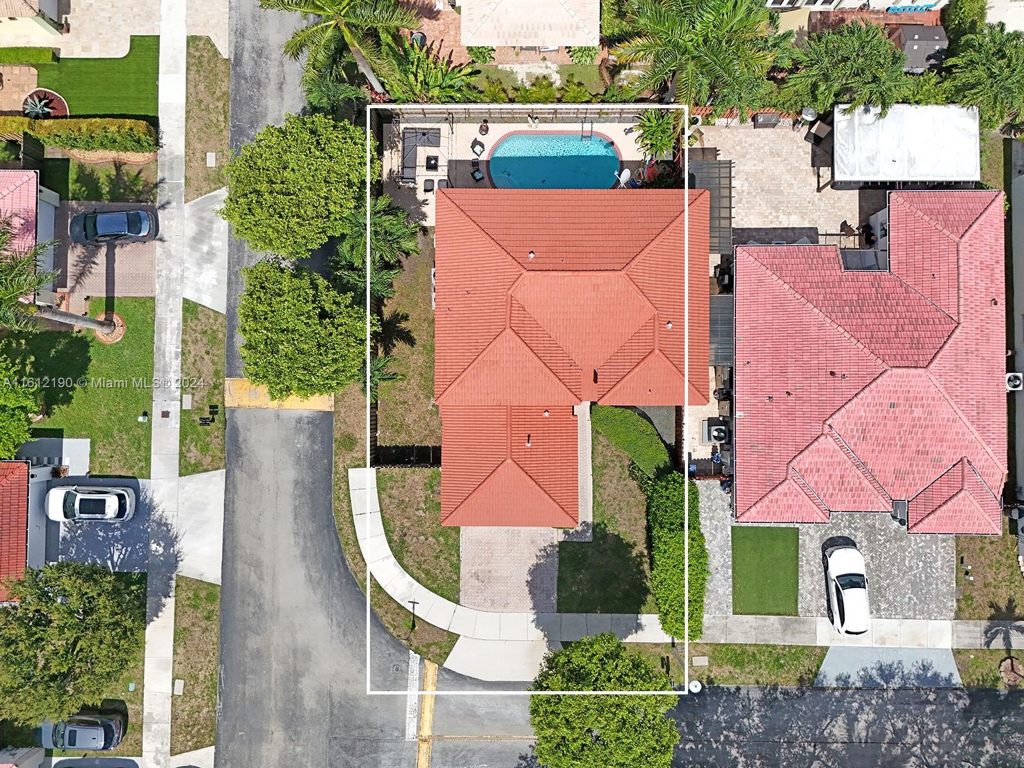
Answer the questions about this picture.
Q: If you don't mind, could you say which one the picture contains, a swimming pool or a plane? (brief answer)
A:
swimming pool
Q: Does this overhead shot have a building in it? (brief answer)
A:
Yes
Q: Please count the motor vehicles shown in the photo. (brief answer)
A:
four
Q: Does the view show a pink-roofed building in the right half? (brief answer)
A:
Yes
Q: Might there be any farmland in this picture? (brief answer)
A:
No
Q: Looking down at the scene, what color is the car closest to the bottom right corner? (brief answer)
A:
white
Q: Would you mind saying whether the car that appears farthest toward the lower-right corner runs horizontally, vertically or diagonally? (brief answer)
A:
vertically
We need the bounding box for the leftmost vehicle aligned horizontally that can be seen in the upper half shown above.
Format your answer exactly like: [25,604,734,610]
[67,207,152,248]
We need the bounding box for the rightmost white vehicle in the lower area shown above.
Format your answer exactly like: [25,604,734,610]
[825,540,873,631]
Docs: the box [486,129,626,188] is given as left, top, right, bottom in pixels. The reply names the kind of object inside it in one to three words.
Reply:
swimming pool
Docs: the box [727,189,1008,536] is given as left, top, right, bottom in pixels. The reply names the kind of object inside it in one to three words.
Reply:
house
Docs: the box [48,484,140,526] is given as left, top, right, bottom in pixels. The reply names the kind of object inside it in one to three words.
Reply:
car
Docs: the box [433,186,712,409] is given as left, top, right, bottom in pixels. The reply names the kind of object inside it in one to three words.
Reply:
house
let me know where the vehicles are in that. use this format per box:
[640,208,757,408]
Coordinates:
[48,484,140,526]
[67,207,152,248]
[825,540,873,631]
[43,708,129,754]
